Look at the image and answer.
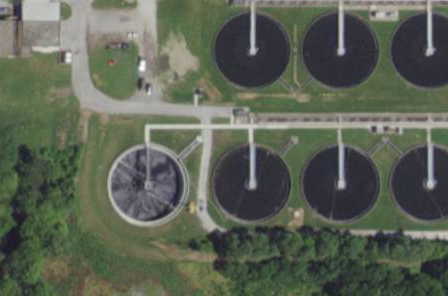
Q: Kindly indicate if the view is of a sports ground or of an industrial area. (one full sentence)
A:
This looks like an industrial area.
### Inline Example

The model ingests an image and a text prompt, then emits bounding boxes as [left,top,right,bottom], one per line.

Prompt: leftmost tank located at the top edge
[214,0,290,89]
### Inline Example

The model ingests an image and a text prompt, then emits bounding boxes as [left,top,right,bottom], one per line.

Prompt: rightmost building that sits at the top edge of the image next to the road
[22,0,60,56]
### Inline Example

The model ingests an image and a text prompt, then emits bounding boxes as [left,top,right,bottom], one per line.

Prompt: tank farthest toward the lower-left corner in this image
[106,129,188,226]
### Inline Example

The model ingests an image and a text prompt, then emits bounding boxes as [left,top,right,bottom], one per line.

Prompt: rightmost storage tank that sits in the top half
[391,0,448,88]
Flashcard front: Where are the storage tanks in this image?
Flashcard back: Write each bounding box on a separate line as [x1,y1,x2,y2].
[214,0,290,89]
[302,0,380,89]
[106,129,188,226]
[300,128,380,224]
[212,128,290,224]
[390,128,448,224]
[391,0,448,88]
